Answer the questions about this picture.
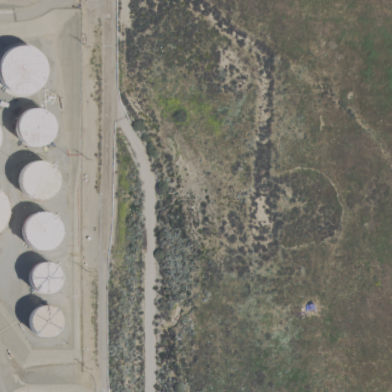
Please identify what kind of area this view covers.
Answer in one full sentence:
The picture captures an industrial area.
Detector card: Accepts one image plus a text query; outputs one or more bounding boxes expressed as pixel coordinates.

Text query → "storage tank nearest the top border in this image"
[0,42,49,94]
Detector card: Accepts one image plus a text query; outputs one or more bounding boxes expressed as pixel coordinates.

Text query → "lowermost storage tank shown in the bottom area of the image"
[30,304,65,340]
